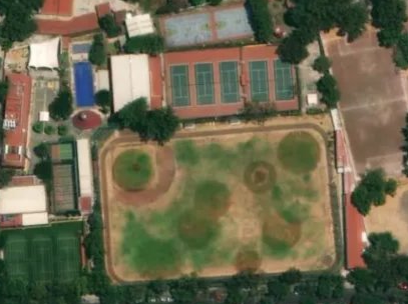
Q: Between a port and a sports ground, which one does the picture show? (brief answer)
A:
sports ground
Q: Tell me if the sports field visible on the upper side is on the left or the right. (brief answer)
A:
right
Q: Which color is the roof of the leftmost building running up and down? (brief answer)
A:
red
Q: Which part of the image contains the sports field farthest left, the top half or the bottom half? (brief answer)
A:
bottom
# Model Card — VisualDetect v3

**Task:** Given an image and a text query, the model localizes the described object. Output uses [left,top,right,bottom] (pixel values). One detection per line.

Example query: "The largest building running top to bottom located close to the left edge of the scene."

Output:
[3,74,34,172]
